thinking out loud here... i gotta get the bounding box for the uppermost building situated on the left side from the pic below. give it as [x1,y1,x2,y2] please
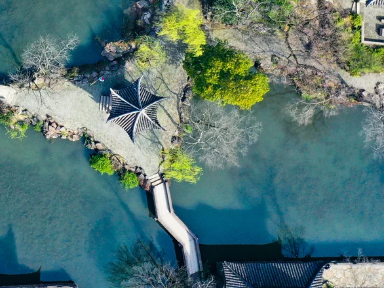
[103,74,173,145]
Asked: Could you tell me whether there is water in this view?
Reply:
Yes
